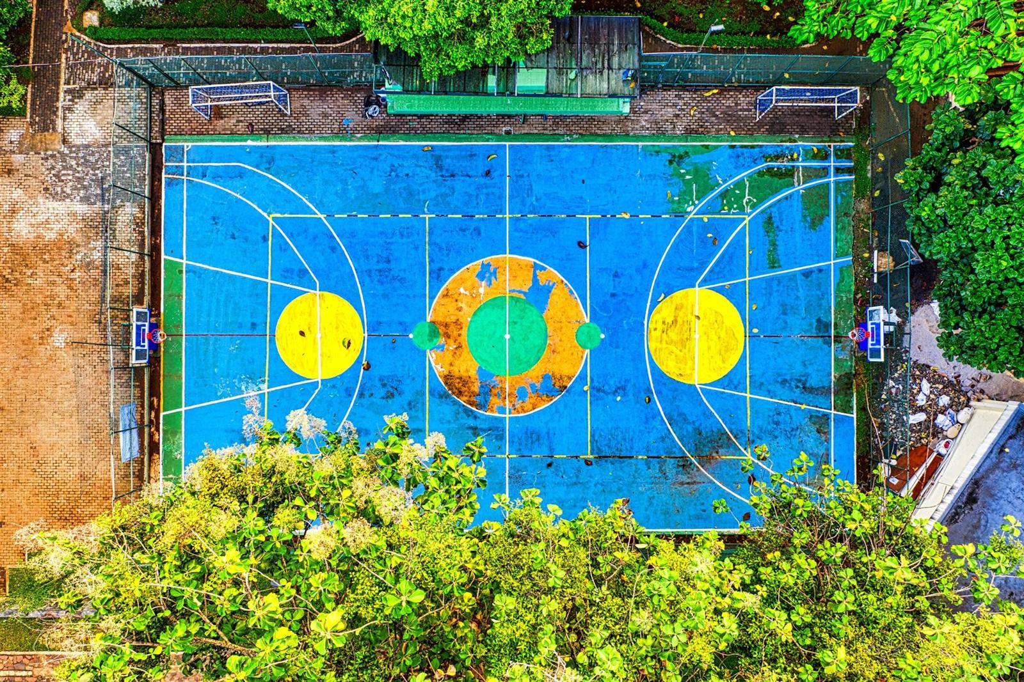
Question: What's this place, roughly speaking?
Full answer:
What you see here is a sports ground.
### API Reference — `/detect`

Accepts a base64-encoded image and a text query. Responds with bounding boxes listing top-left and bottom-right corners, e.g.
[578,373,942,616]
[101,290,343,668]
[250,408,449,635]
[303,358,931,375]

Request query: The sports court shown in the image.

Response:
[159,133,857,534]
